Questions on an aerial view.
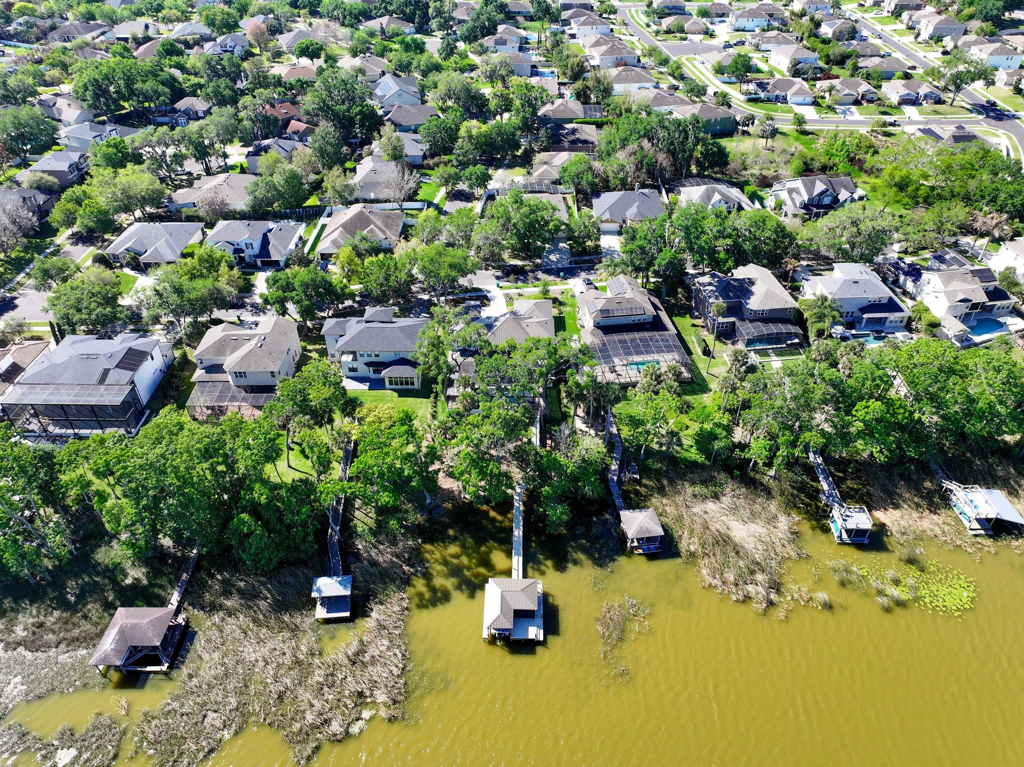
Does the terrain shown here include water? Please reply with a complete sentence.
Yes, water shows up in the scene.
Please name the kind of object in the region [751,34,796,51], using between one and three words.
house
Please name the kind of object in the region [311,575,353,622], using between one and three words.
pier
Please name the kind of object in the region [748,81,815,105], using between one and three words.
house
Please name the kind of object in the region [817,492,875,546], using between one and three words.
pier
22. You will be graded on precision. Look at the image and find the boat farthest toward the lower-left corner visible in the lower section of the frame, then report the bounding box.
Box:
[492,629,508,647]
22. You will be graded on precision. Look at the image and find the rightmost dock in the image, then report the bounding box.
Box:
[946,486,1024,537]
